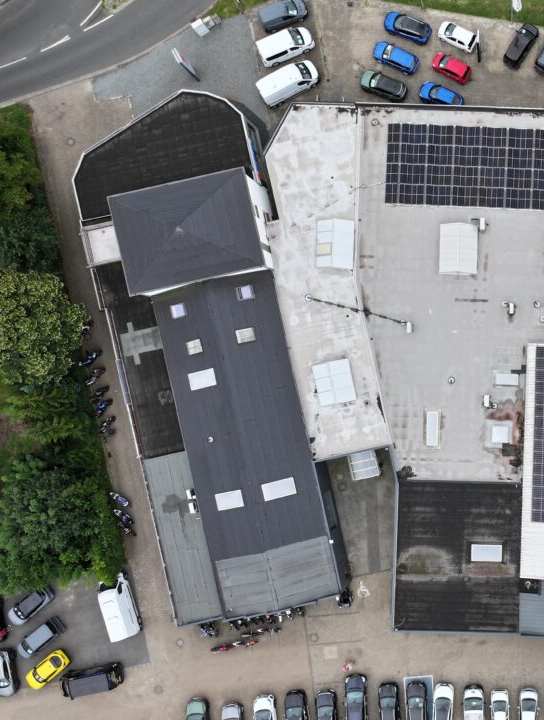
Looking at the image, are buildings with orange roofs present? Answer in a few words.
No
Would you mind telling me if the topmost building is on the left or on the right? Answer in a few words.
left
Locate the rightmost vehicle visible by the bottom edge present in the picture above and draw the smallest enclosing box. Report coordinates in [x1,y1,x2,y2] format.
[517,686,540,720]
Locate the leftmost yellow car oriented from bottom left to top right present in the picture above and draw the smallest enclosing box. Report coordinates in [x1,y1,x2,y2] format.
[28,648,73,688]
